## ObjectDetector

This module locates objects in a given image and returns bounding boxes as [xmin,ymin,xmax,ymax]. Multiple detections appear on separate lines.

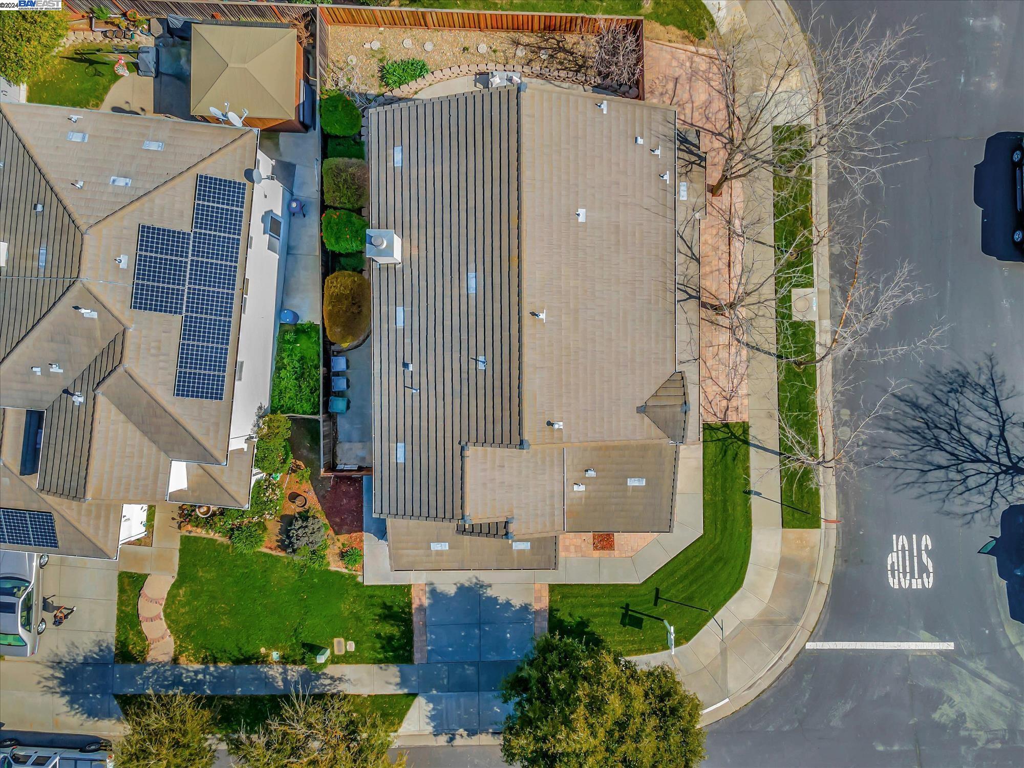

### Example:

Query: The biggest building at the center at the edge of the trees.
[365,82,709,572]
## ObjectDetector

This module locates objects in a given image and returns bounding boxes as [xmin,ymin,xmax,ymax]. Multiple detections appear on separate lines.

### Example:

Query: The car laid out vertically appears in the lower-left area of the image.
[0,553,47,659]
